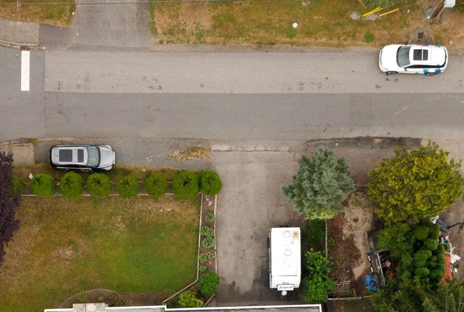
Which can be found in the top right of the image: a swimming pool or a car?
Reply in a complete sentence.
There is a car in the top right of the image.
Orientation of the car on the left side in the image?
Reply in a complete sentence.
In this picture, the car on the left side lies from left to right.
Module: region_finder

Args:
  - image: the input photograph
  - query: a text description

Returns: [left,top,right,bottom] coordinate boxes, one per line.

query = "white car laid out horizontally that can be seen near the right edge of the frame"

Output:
[378,43,447,77]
